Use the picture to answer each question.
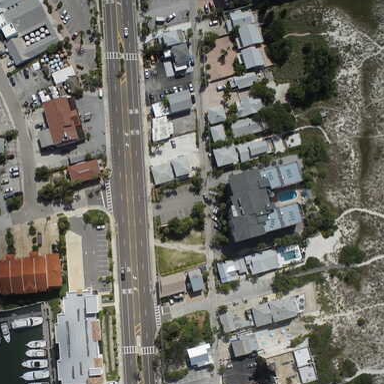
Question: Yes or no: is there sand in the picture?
Yes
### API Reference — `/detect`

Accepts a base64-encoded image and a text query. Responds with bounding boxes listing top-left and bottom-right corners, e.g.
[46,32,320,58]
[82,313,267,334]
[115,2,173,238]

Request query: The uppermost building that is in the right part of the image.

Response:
[229,9,255,28]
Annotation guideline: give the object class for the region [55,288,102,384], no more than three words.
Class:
building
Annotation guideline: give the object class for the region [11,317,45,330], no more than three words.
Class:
boat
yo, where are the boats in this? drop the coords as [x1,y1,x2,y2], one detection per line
[26,340,47,349]
[17,368,50,380]
[0,322,10,343]
[24,349,47,357]
[21,360,48,368]
[11,317,45,330]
